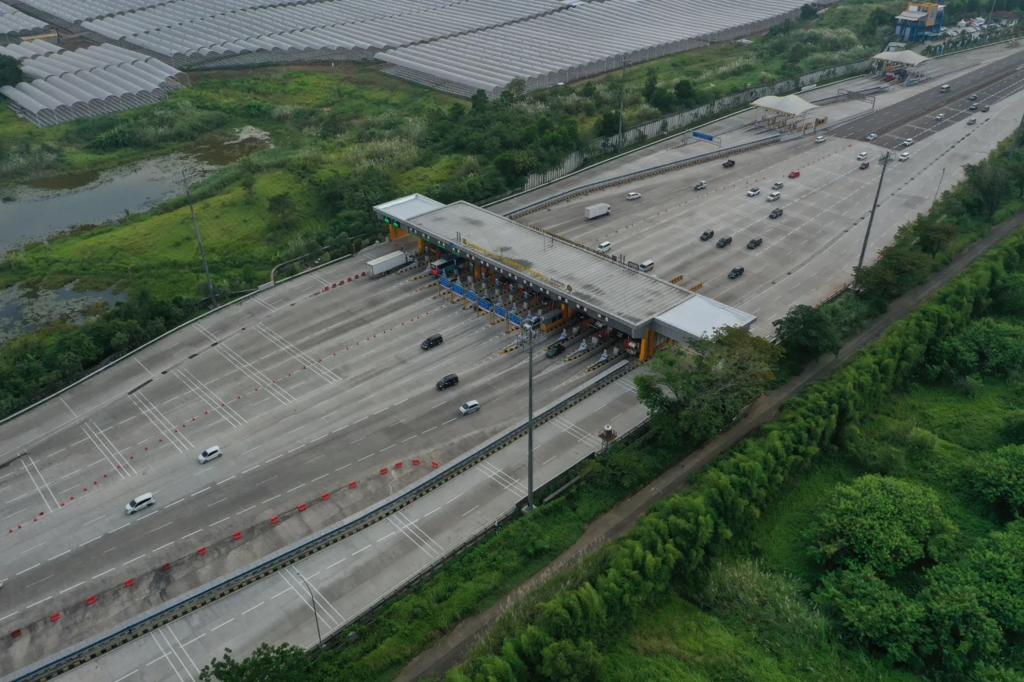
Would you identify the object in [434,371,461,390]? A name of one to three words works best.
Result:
car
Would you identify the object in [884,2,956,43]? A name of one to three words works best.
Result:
building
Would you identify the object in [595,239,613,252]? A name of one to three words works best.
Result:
vehicle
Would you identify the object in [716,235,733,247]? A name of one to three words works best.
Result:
vehicle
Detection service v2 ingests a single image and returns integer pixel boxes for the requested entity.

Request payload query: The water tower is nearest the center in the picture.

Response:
[601,423,627,461]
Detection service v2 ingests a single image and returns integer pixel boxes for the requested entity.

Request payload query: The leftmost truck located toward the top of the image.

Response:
[366,250,409,275]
